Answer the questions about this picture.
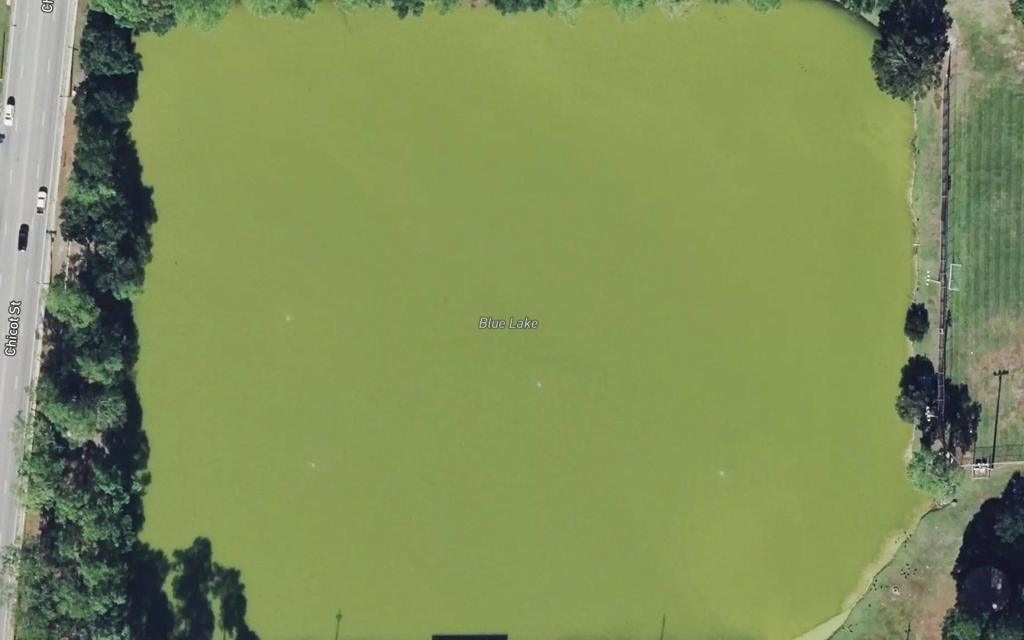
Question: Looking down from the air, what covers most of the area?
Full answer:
The largest share of the image is taken up by water.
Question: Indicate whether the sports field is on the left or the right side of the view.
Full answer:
The sports field sits on the right side.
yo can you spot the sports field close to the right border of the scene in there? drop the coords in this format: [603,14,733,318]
[951,0,1024,465]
